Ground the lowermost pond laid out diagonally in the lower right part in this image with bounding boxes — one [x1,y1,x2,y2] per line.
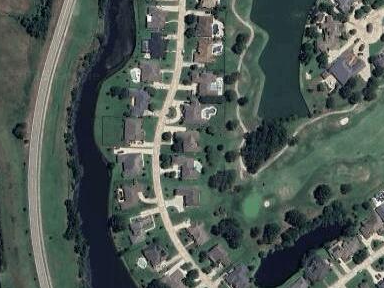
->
[255,222,347,288]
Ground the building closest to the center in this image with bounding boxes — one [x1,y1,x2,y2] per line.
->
[175,133,202,152]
